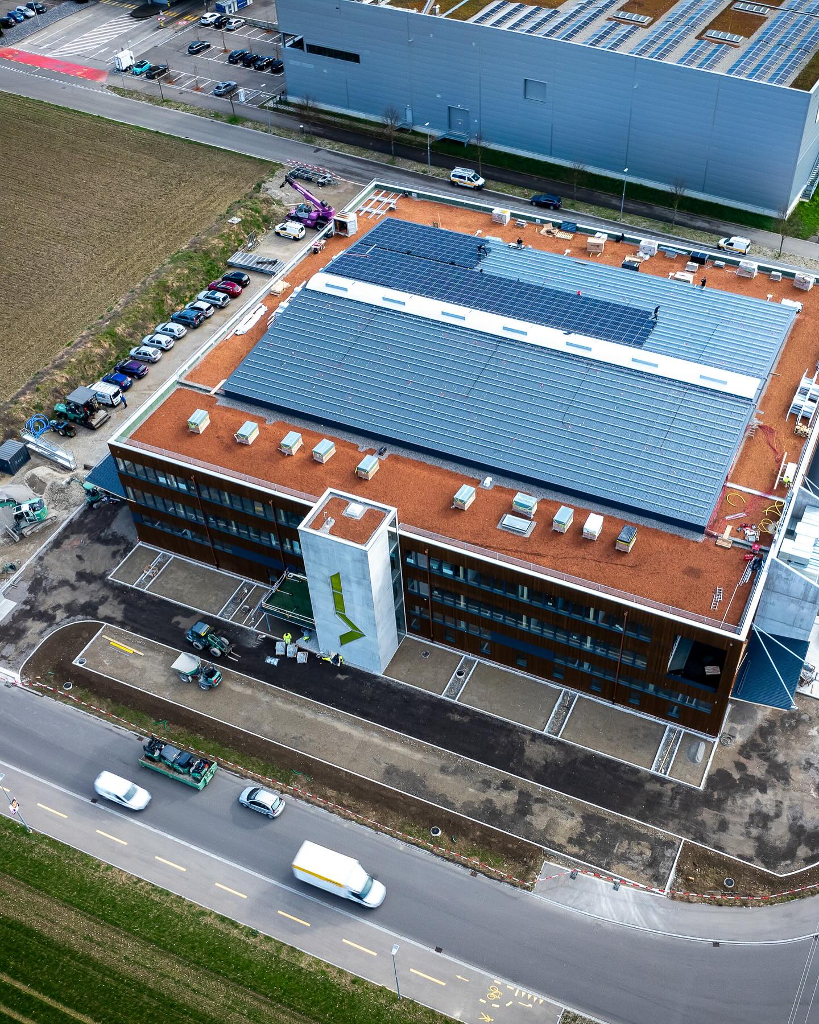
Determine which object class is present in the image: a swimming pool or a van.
van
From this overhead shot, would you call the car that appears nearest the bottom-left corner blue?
No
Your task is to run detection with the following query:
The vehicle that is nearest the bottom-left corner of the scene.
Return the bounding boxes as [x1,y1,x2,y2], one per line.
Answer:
[94,767,153,811]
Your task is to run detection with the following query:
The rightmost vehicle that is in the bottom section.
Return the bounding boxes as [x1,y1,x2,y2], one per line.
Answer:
[291,829,388,903]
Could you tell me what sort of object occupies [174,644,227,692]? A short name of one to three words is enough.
truck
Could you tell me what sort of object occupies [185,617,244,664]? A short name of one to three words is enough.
work vehicle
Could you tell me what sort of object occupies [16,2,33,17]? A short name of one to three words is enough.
car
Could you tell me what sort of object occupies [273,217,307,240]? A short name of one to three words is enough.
vehicle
